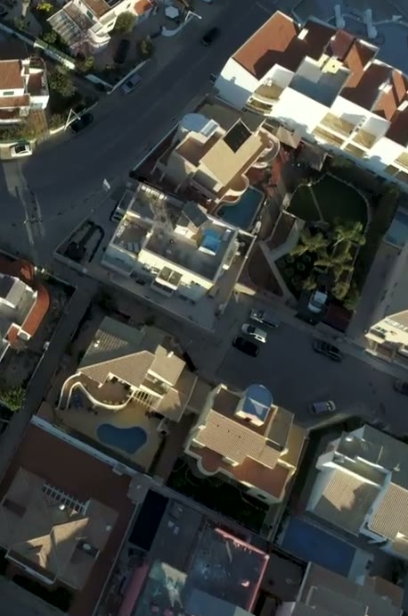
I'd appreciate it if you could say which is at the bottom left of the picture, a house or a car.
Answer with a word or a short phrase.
house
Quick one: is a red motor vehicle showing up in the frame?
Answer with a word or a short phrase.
No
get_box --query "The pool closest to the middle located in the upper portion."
[213,184,268,233]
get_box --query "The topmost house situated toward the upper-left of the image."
[43,0,153,57]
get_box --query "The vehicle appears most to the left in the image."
[9,143,33,156]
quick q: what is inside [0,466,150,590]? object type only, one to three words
house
